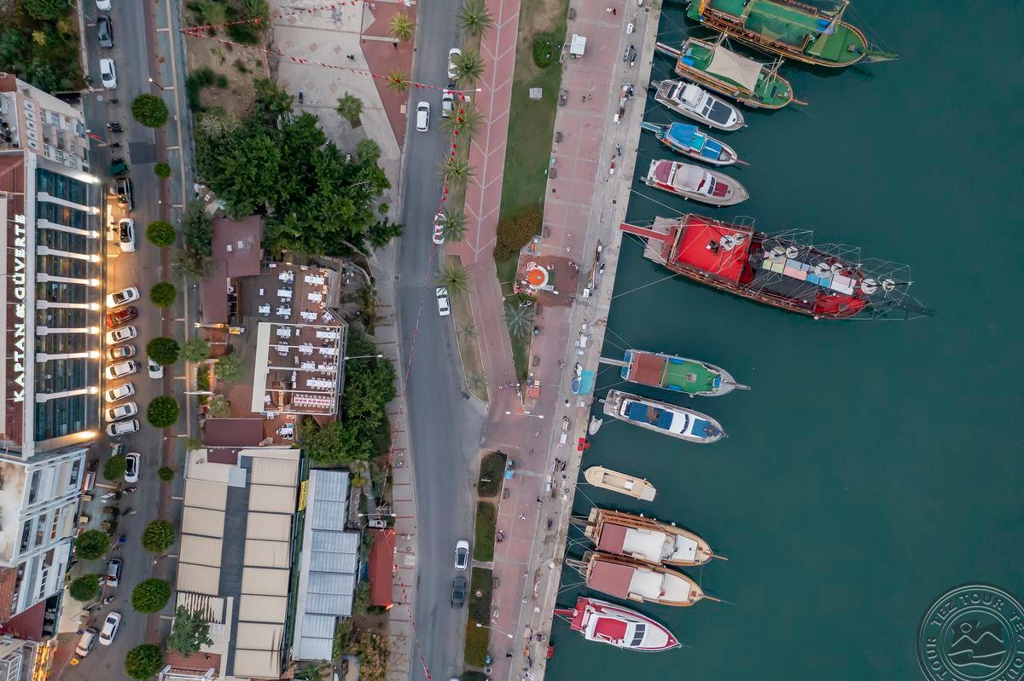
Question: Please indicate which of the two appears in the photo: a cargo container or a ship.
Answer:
ship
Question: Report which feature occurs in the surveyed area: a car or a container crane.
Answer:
car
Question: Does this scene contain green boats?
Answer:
Yes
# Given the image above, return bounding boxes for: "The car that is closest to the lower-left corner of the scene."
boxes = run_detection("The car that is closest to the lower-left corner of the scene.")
[71,625,99,659]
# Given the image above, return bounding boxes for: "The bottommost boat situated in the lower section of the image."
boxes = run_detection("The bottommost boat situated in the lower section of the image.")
[553,597,686,653]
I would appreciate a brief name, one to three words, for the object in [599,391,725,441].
boat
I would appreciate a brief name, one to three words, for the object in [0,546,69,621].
house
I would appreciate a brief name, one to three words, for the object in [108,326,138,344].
car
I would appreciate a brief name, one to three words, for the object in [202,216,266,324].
building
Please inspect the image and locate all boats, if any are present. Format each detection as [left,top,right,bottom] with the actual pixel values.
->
[646,80,747,128]
[640,121,749,165]
[559,539,722,606]
[568,496,728,591]
[655,18,807,108]
[632,160,749,215]
[577,467,657,508]
[599,391,725,441]
[553,597,686,653]
[658,0,899,63]
[588,415,603,434]
[595,328,750,396]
